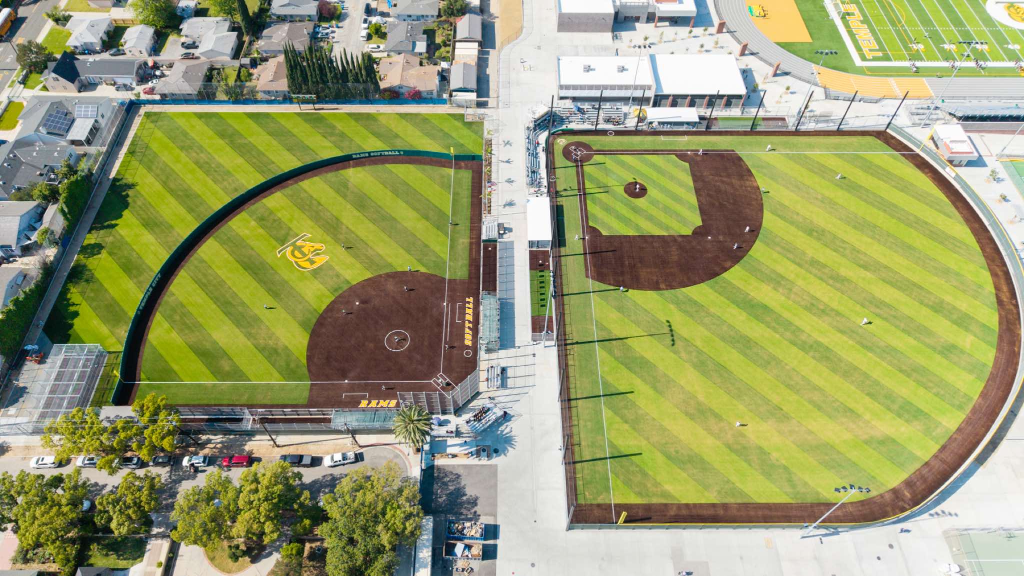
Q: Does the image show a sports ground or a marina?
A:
sports ground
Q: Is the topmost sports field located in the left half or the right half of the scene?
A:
right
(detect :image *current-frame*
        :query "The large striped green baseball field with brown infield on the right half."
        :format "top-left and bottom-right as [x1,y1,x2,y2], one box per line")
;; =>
[550,130,1020,526]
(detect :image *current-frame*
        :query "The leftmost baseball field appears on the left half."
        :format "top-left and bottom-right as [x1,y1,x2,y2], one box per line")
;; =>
[40,111,483,414]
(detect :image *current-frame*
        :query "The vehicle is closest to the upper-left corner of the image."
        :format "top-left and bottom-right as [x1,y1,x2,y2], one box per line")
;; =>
[0,11,20,39]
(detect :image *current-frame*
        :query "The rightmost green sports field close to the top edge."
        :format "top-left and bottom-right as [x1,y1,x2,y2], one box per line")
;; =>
[745,0,1024,80]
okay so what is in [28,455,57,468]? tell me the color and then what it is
white vehicle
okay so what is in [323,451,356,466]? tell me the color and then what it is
white vehicle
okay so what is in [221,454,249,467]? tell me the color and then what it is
red vehicle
